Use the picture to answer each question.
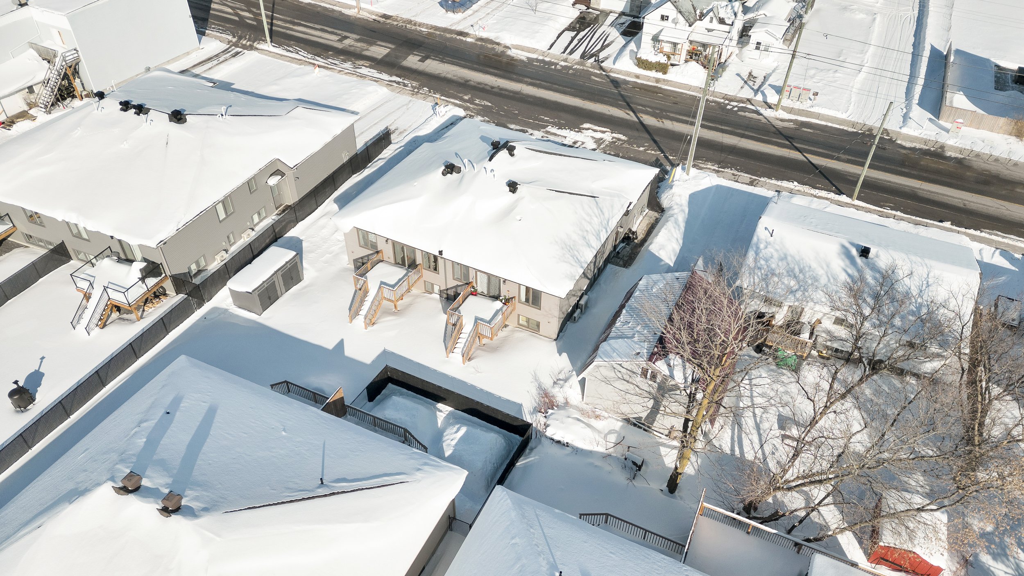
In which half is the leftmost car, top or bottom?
top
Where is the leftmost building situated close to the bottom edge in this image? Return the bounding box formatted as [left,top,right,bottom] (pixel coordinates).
[0,353,472,576]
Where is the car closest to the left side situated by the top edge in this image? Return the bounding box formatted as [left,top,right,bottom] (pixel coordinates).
[615,13,643,36]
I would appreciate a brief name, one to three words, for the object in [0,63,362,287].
house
